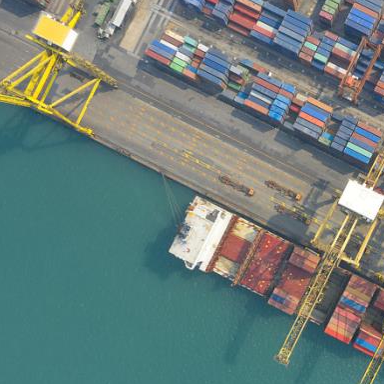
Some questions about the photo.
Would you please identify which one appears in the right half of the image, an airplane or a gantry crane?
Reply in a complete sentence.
It is a gantry crane that can be seen in the right half of the image.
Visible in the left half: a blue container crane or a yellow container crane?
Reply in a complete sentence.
Looking in the left half, you will find a yellow container crane.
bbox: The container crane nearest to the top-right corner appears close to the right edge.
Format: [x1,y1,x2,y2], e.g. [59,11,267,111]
[333,36,384,113]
